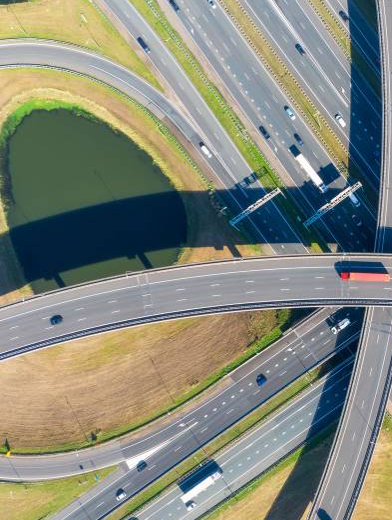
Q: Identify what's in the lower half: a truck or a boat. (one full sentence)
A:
Visible in the lower half is a truck.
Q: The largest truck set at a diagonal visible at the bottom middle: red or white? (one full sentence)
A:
The largest truck set at a diagonal visible at the bottom middle is white.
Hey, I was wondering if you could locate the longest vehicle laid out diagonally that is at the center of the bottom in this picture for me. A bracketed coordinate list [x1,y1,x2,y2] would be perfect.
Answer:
[180,470,224,506]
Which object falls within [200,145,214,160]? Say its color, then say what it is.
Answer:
white vehicle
